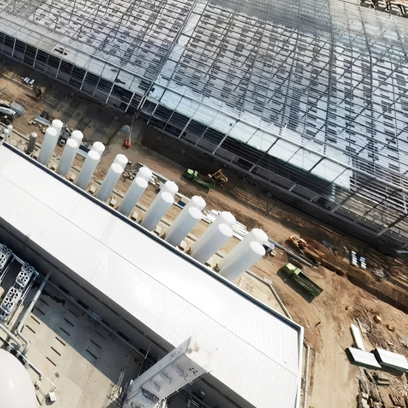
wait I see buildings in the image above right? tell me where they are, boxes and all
[0,0,408,257]
[0,141,304,408]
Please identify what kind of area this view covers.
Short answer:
industrial area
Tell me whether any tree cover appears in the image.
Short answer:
No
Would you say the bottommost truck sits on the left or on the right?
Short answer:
right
